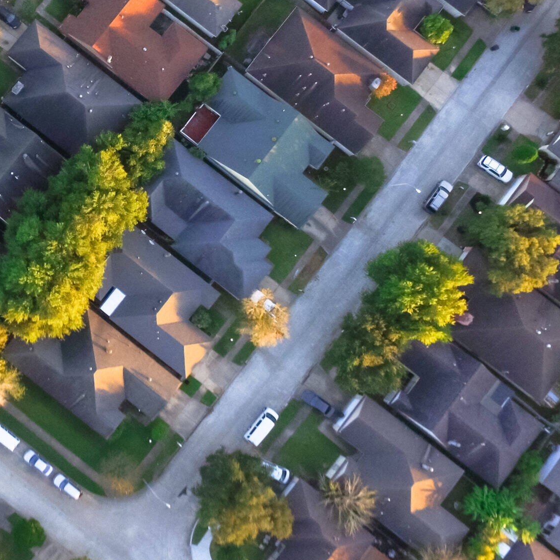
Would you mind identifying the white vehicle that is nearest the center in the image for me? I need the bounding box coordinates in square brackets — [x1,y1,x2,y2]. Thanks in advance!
[245,408,278,448]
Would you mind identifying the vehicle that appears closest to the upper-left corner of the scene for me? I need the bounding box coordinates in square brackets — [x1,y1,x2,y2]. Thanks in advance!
[0,2,25,32]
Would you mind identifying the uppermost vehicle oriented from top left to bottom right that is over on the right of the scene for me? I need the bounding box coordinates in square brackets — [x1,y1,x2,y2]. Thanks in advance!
[478,156,513,183]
